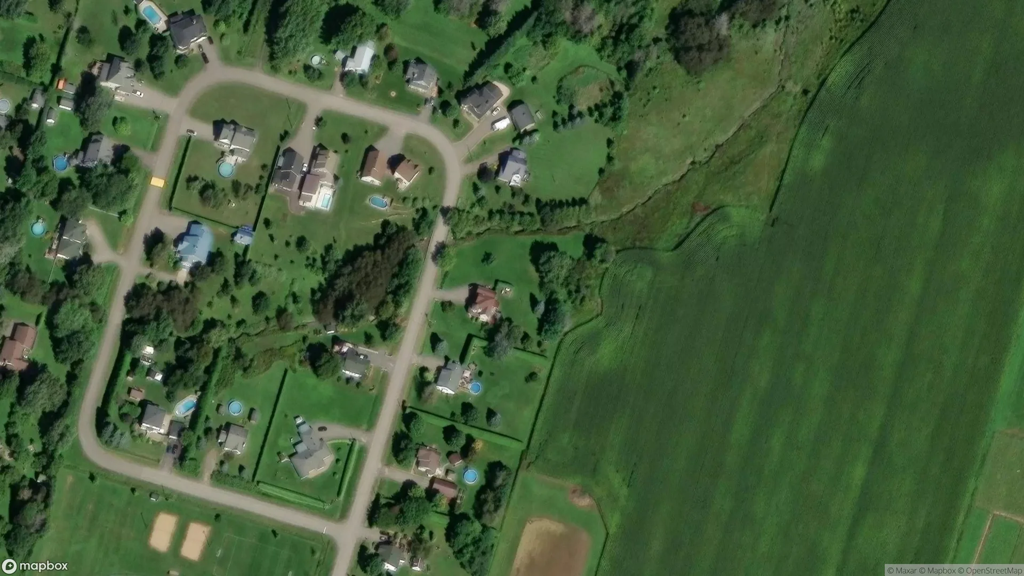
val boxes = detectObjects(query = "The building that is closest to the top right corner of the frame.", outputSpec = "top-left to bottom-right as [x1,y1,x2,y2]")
[509,102,535,132]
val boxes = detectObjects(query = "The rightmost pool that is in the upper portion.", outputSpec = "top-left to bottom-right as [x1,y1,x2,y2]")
[368,195,388,210]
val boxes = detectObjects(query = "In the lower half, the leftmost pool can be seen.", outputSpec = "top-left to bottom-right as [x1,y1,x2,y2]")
[175,396,197,417]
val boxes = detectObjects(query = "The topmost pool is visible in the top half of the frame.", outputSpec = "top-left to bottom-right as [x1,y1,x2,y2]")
[138,0,168,33]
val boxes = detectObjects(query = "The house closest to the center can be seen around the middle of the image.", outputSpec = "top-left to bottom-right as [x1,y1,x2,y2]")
[467,286,500,330]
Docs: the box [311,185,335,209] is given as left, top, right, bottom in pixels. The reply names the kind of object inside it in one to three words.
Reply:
swimming pool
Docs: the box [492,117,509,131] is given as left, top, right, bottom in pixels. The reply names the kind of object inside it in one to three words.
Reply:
camper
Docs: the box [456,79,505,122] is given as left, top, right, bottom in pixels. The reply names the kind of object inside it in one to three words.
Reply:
house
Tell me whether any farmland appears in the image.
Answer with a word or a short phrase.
Yes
